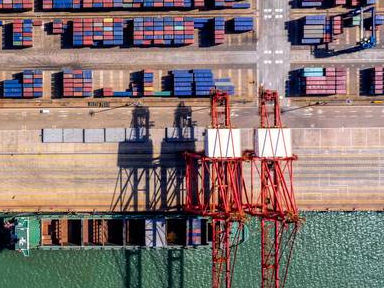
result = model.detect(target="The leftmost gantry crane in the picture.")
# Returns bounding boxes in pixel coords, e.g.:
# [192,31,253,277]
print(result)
[174,90,251,288]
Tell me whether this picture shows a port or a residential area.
port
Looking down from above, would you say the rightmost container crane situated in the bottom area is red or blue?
red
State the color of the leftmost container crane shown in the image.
red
